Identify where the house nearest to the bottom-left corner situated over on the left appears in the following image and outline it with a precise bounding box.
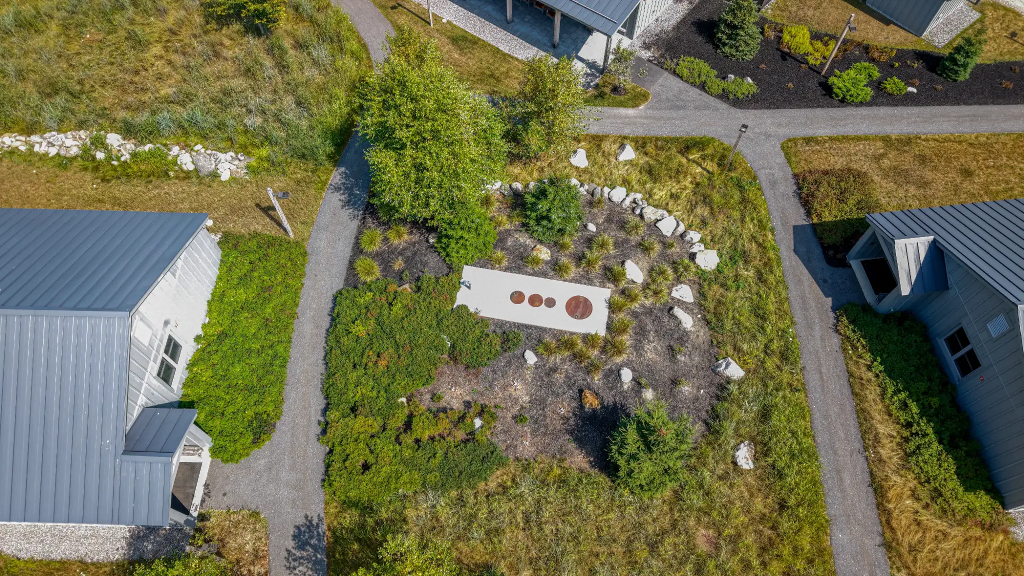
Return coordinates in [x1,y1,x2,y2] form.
[0,209,219,530]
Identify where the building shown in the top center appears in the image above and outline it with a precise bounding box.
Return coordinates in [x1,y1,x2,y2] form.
[533,0,672,73]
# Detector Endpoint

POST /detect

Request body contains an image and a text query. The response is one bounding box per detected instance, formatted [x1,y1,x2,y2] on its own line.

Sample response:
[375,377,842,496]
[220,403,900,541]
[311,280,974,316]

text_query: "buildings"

[533,0,672,73]
[0,209,219,530]
[866,0,974,37]
[852,197,1024,518]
